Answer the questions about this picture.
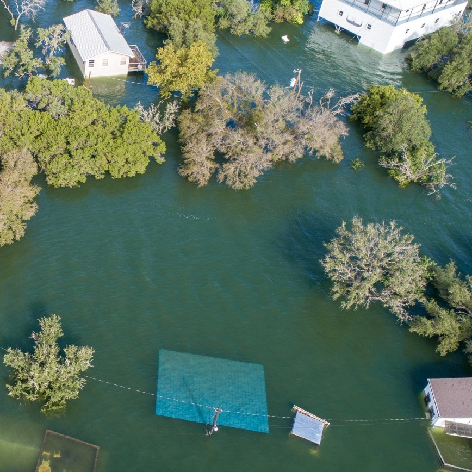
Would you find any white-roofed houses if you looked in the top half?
Yes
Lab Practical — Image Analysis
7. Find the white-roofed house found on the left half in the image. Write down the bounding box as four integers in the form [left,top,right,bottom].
[62,9,149,94]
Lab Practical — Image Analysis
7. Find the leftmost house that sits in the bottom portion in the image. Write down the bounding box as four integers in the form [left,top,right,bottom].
[156,352,268,445]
